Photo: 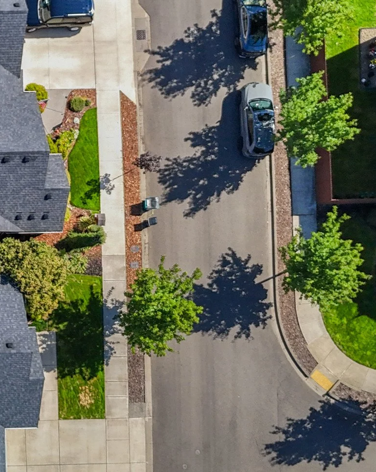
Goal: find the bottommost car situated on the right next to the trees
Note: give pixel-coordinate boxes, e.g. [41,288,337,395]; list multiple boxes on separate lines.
[235,82,276,160]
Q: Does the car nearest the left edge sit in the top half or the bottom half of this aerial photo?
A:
top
